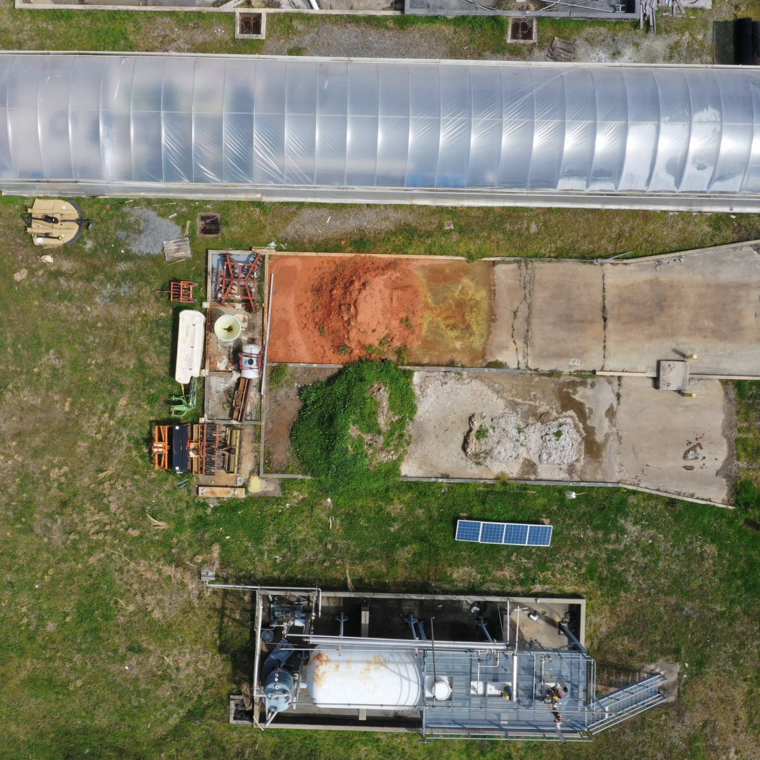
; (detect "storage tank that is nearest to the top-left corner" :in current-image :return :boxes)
[177,310,206,384]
